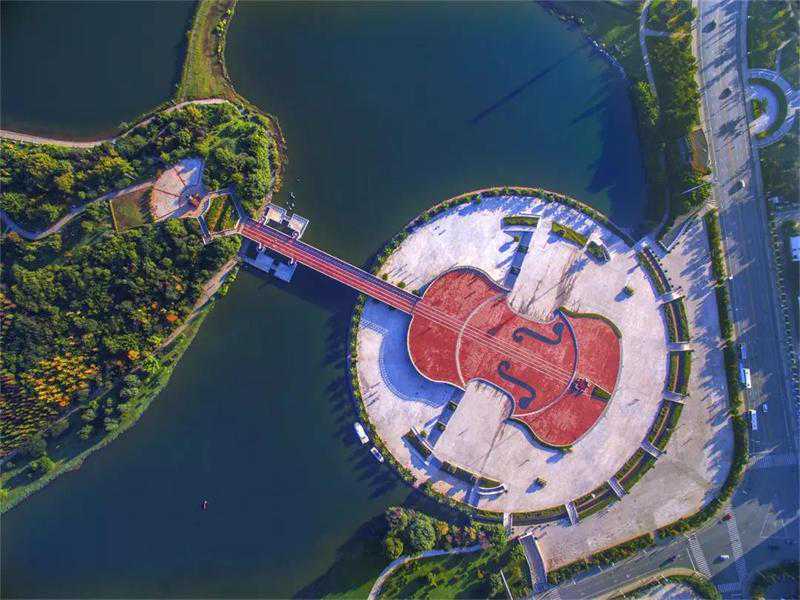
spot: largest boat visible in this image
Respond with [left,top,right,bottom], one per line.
[354,423,367,445]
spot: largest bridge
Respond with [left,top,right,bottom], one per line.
[238,217,418,312]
